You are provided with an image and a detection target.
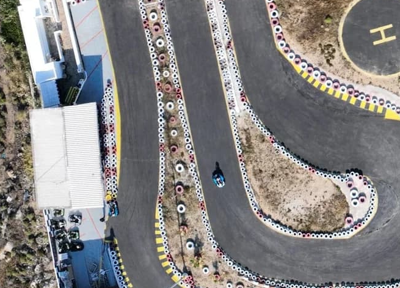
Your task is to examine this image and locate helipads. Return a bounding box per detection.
[343,0,400,72]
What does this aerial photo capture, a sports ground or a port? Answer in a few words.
sports ground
